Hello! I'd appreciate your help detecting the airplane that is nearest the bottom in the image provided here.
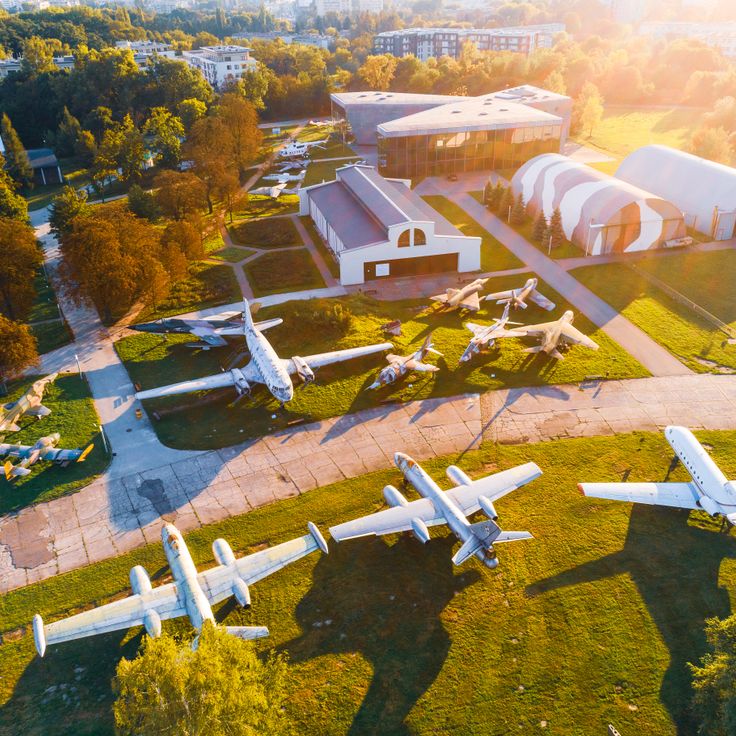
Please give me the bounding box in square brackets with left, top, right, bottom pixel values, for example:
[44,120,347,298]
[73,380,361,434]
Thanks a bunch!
[36,522,326,667]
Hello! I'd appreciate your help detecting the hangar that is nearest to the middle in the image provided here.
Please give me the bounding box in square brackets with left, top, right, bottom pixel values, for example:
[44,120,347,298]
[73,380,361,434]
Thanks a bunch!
[300,160,484,285]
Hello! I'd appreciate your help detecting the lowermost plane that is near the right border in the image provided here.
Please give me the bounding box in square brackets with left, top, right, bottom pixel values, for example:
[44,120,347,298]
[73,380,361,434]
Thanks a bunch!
[579,430,736,533]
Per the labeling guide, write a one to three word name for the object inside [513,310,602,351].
airplane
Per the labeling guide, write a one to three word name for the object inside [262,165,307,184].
airplane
